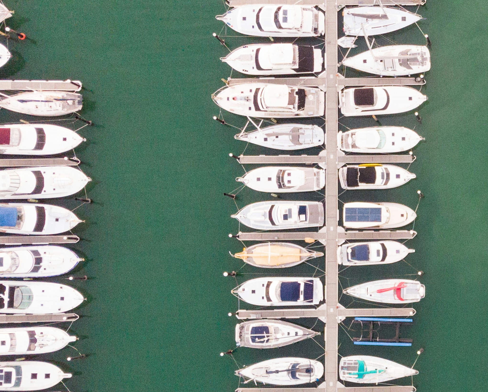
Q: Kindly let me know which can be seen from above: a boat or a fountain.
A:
boat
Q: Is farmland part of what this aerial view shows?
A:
No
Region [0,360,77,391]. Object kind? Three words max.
boat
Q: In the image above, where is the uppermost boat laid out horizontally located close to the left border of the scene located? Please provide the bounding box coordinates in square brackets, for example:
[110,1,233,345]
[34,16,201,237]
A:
[0,90,86,116]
